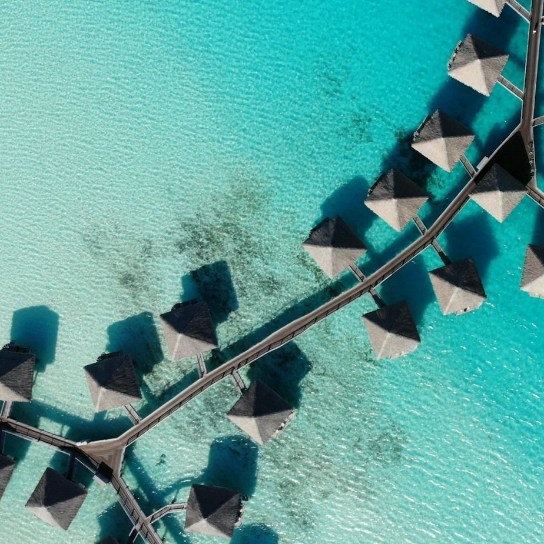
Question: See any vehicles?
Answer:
No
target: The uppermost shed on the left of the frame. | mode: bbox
[160,299,220,360]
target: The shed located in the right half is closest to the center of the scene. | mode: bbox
[302,213,369,280]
